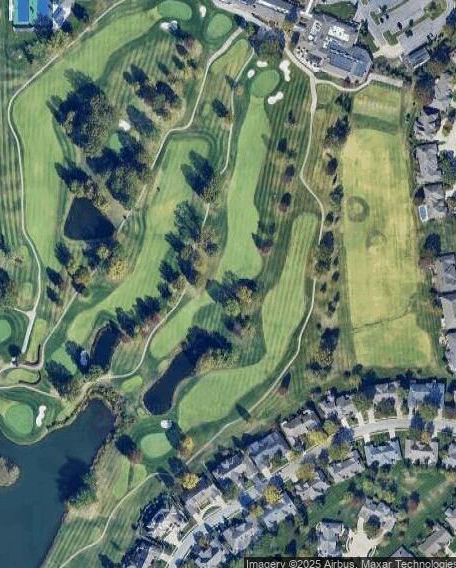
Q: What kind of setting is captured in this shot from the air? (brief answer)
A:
golf course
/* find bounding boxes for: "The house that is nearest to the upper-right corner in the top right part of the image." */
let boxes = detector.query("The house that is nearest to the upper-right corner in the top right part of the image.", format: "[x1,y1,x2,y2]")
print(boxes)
[401,42,434,71]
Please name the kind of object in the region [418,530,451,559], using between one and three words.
house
